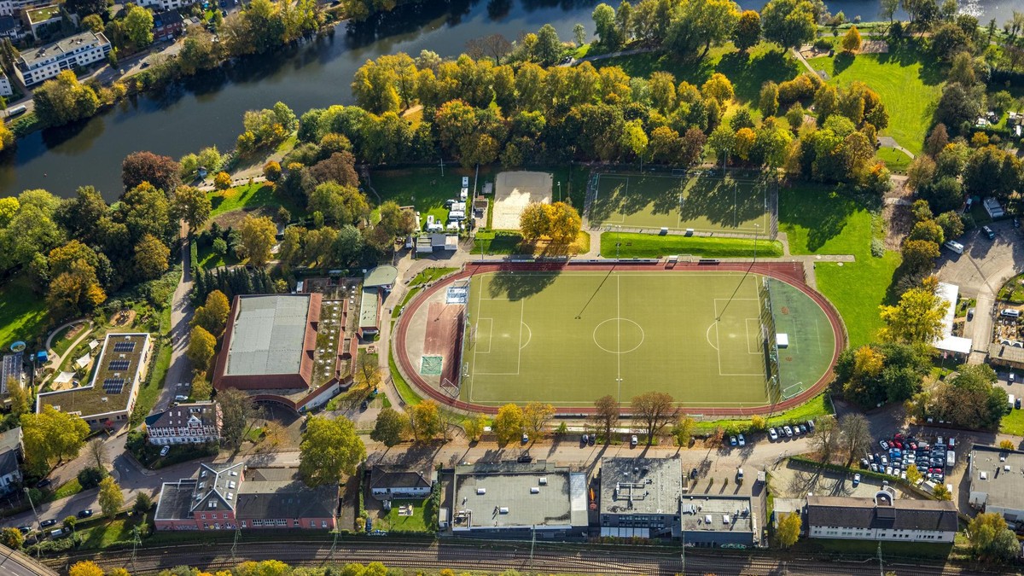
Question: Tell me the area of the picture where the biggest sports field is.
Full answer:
Look in the center portion of the view to spot the biggest sports field.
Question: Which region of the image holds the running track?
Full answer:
The running track is located in the center region of the scene.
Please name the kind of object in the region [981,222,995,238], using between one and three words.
vehicle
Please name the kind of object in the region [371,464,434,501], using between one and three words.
house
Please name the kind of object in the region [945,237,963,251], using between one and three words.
vehicle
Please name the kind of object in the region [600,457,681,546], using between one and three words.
building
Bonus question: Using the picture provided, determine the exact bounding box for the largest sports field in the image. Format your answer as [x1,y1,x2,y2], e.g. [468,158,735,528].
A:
[461,271,778,405]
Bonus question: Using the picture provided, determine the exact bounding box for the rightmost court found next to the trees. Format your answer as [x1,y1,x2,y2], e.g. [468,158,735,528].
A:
[491,171,552,229]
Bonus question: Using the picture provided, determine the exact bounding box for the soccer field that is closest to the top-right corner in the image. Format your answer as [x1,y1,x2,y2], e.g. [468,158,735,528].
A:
[588,170,773,236]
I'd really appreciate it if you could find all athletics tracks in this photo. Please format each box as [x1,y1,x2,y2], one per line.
[389,260,851,418]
